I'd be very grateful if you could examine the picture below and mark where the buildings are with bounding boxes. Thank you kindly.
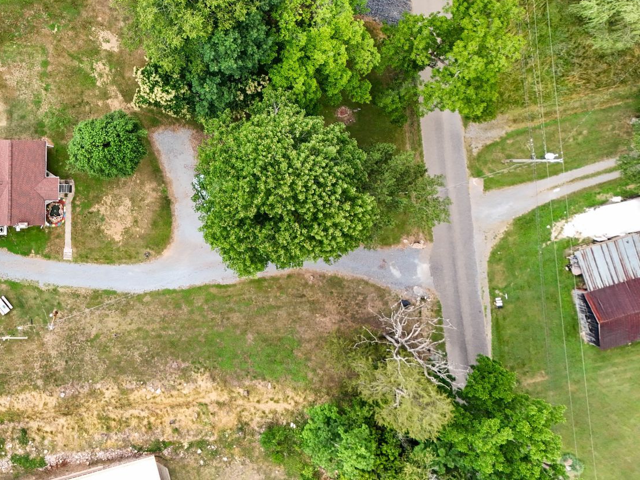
[0,140,60,230]
[52,449,170,480]
[560,231,640,350]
